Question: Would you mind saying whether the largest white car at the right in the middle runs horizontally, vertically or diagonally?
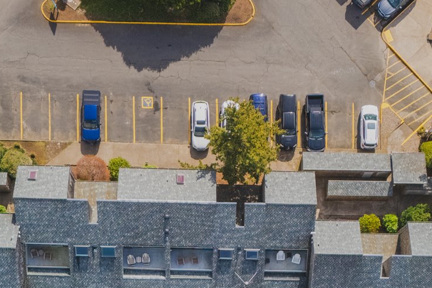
vertically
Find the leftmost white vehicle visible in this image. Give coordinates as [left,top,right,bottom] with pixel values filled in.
[188,102,211,153]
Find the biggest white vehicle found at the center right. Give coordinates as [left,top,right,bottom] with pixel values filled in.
[358,104,382,152]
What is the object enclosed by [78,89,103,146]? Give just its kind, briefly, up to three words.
truck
